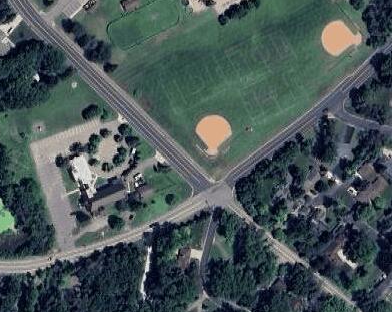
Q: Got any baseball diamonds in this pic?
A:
Yes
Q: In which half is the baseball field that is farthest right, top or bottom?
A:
top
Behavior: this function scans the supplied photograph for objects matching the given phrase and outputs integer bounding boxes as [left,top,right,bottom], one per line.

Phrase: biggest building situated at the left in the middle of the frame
[69,156,130,221]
